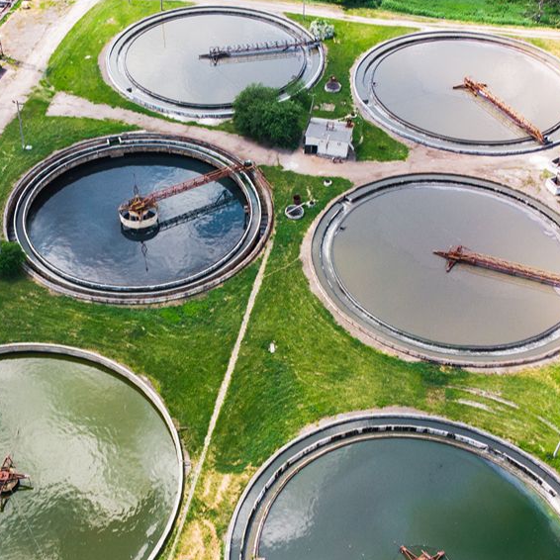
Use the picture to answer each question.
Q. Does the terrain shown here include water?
Yes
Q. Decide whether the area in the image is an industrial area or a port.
industrial area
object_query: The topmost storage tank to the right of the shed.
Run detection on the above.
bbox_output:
[355,30,560,155]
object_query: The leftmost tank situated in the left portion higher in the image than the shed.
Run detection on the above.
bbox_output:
[106,6,323,121]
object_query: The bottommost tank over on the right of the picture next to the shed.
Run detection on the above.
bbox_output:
[312,170,560,368]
